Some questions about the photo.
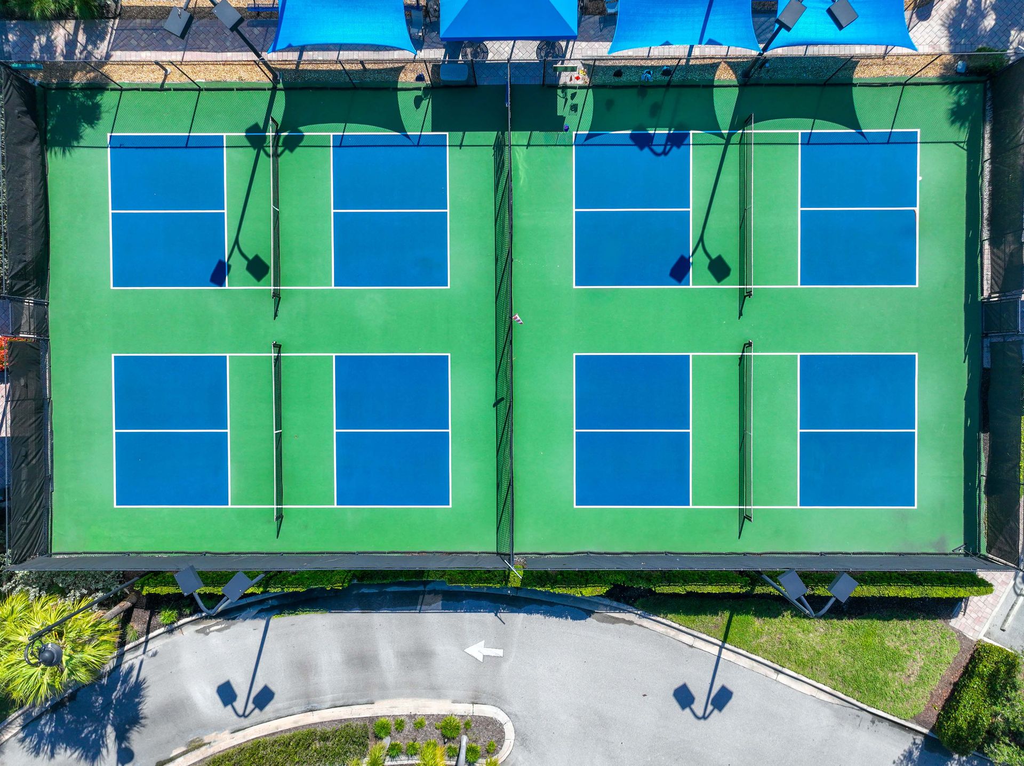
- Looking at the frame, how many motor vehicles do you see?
0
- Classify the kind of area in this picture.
sports ground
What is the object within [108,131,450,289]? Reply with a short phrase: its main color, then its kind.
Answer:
blue sports court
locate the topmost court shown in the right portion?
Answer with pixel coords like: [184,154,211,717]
[573,128,921,288]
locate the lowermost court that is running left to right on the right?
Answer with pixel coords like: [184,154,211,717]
[573,352,918,508]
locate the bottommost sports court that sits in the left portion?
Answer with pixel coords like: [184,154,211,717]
[111,353,451,508]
